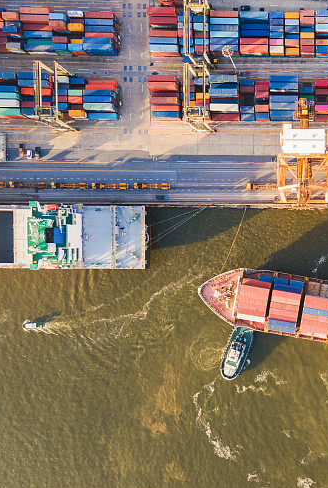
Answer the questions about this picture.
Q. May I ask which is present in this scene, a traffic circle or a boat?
boat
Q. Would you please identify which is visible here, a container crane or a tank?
container crane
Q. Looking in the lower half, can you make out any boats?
Yes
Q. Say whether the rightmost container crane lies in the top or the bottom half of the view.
top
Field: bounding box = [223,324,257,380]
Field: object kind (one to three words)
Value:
boat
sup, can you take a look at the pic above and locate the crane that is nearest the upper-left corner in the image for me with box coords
[30,58,77,133]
